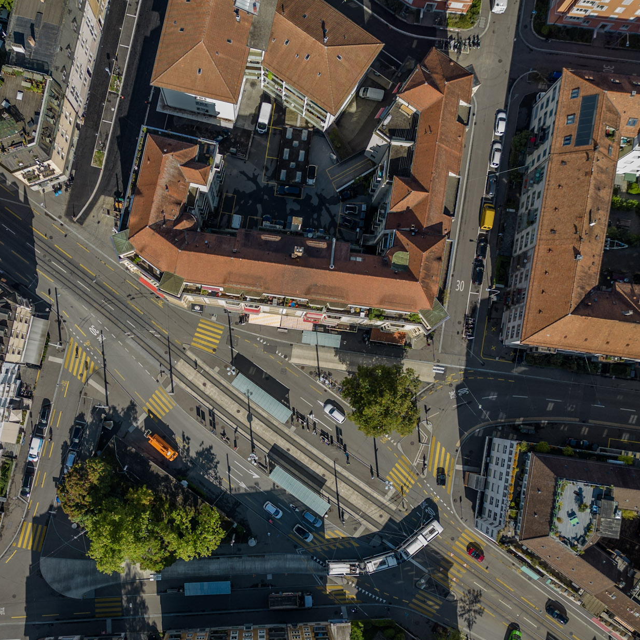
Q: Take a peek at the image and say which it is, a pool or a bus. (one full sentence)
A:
Of the two, only a bus appears.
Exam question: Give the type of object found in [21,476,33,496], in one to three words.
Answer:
vehicle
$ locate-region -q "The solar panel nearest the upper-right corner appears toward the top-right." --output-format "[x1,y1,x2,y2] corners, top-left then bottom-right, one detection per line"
[574,94,599,146]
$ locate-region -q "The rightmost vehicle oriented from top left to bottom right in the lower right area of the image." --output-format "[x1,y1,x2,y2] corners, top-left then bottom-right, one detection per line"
[545,603,568,624]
